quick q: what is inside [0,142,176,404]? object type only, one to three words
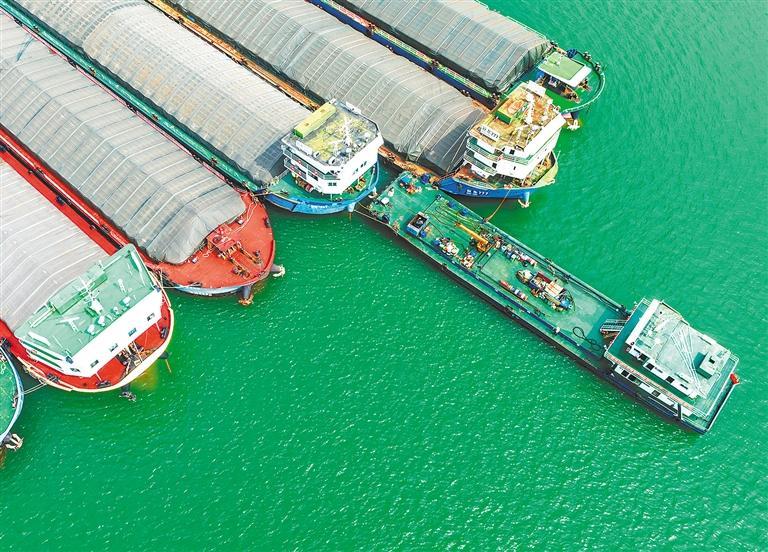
ship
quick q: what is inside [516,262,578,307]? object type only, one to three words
boat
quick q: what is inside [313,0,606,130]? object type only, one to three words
ship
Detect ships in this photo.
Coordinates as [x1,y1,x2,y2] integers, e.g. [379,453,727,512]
[0,335,30,454]
[0,0,381,220]
[0,9,282,302]
[364,172,742,434]
[154,0,568,207]
[0,142,176,404]
[313,0,606,130]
